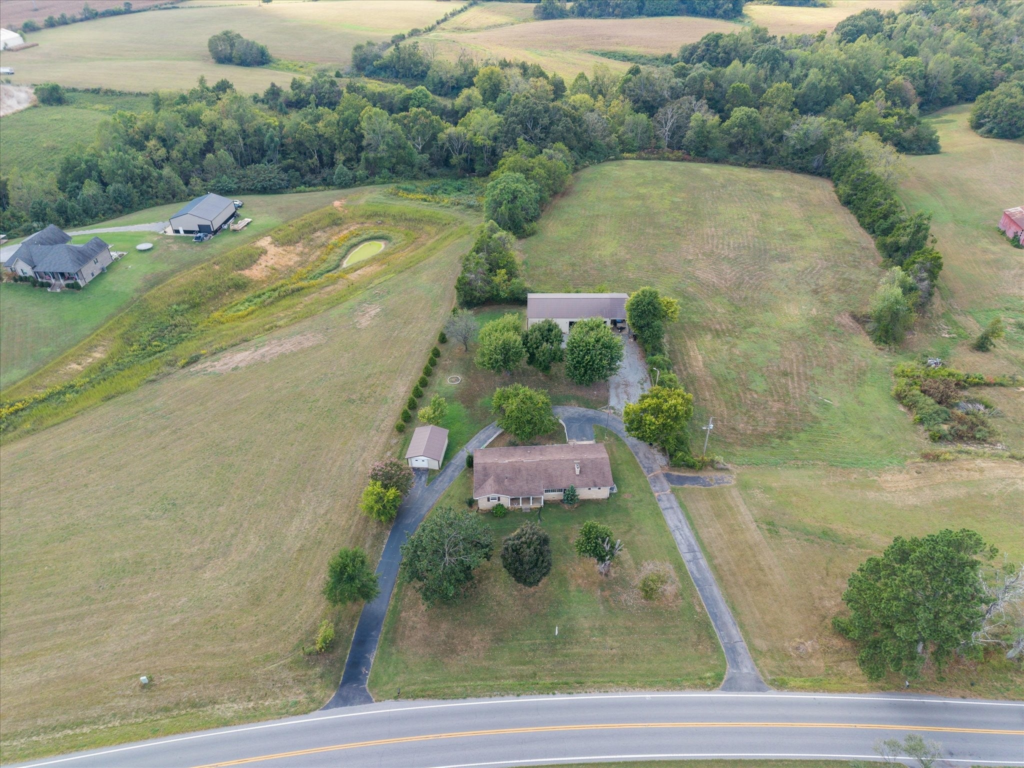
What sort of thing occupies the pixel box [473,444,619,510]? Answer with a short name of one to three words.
house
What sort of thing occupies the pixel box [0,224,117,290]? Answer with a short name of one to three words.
house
